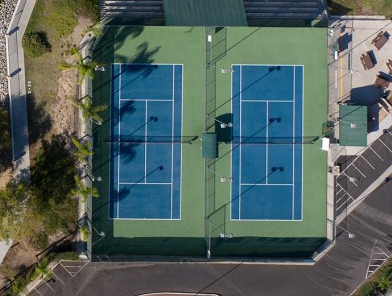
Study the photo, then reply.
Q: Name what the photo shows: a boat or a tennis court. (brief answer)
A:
tennis court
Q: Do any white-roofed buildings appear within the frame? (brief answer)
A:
No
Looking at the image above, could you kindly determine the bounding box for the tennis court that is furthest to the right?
[206,26,326,256]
